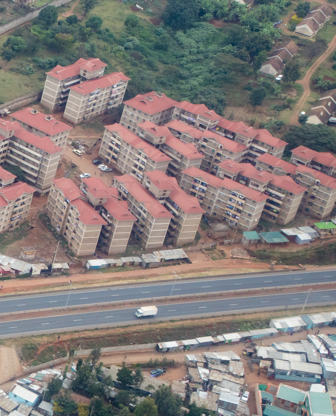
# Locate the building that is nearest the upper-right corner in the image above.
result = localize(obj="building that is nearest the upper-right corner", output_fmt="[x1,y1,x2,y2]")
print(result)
[298,1,328,36]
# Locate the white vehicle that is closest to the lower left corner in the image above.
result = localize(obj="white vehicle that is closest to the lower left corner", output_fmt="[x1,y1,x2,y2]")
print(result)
[137,304,160,317]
